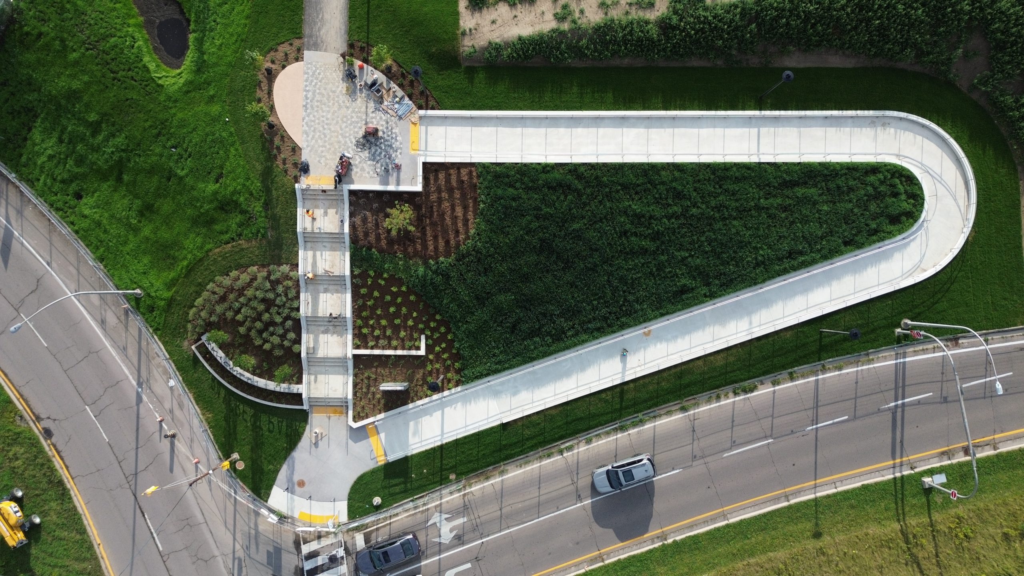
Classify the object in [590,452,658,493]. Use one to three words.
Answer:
car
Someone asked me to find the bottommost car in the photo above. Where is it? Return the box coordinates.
[352,534,421,576]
